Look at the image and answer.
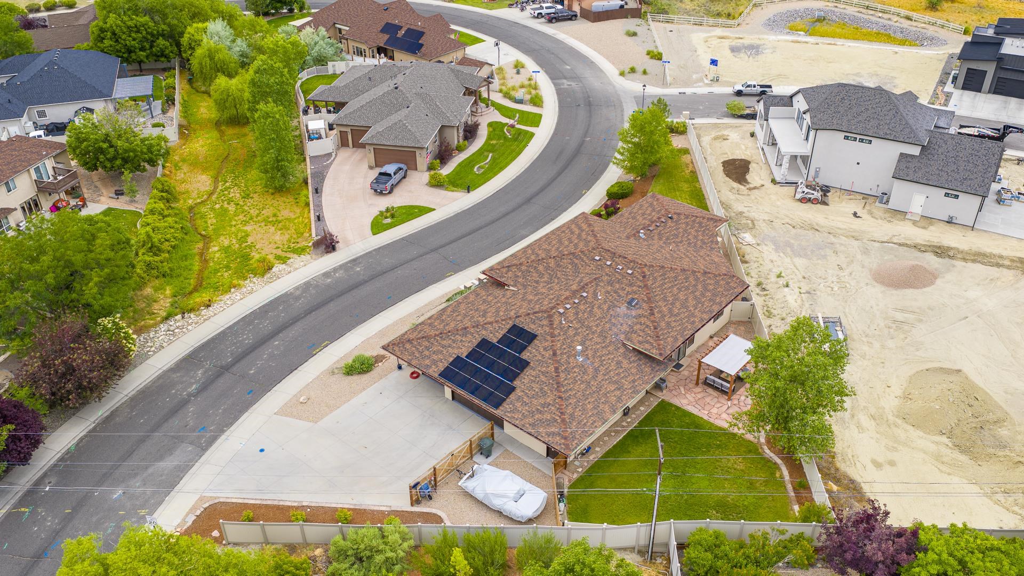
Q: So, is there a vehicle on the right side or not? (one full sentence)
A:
Yes, a vehicle shows up on the right side.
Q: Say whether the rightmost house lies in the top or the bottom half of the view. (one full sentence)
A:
You can find the rightmost house in the top half.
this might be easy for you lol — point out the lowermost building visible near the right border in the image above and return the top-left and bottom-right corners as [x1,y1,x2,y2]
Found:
[762,83,1005,224]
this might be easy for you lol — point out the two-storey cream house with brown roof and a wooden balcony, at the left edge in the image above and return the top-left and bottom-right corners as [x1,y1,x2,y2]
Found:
[0,138,90,230]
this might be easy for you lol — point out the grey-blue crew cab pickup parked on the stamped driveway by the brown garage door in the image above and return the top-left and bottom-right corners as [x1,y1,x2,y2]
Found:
[368,160,410,190]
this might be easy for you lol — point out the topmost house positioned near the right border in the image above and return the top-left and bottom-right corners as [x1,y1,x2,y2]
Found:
[955,3,1024,99]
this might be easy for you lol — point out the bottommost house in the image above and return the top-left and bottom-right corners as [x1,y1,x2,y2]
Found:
[382,194,754,461]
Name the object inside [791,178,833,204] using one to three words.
work vehicle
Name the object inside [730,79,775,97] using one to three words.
vehicle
